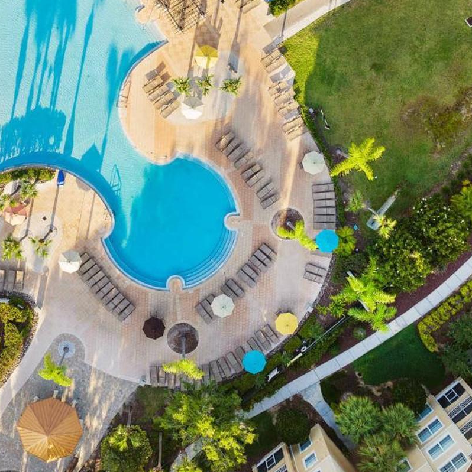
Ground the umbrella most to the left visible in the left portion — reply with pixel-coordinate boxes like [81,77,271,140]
[5,201,28,224]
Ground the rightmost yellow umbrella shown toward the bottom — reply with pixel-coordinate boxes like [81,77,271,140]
[274,310,298,335]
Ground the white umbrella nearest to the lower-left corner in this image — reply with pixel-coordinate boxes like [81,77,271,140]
[59,249,82,274]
